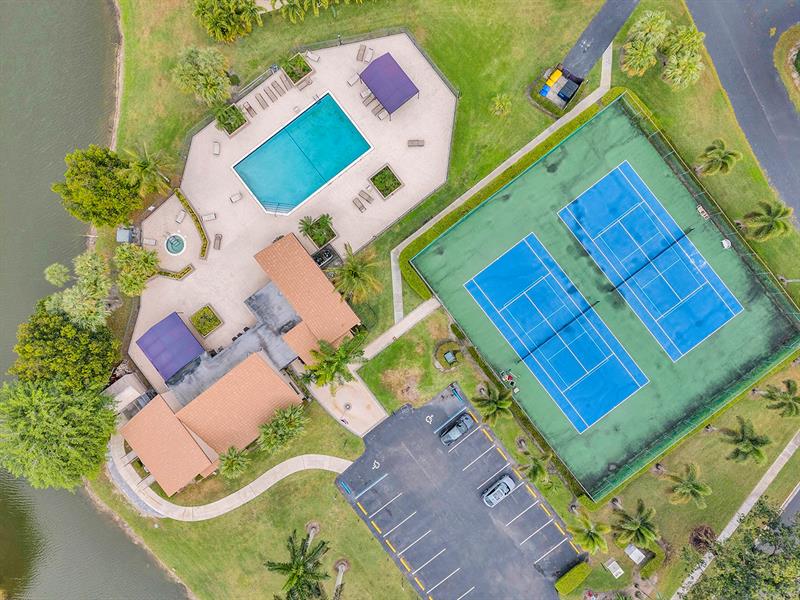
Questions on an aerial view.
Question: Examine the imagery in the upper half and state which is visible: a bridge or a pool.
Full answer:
You can see a pool in the upper half.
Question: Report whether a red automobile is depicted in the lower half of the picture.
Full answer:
No, I can find no red automobile in the lower half of the picture.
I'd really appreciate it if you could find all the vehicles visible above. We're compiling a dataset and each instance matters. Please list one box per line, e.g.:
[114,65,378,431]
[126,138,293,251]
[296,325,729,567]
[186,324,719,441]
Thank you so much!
[481,477,517,510]
[439,416,475,448]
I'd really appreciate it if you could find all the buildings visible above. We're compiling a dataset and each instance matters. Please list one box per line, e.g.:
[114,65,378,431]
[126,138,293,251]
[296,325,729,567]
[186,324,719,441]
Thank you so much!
[109,227,141,241]
[121,233,360,497]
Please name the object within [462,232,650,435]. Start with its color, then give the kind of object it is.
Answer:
blue tennis court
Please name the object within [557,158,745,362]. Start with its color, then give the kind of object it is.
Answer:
blue tennis court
